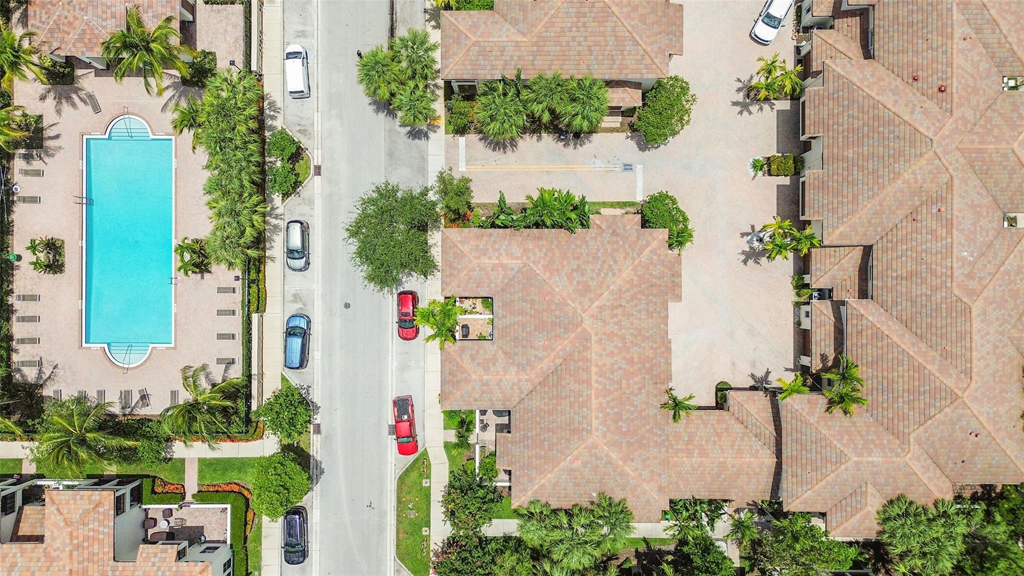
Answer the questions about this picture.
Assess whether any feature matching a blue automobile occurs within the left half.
Yes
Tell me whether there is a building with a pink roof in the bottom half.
No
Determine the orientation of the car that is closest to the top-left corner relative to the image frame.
from top to bottom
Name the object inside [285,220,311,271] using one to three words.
car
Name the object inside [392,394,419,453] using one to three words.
truck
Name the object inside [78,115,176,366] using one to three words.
swimming pool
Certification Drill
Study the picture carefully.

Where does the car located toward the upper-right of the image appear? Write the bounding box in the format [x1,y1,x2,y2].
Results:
[754,0,791,46]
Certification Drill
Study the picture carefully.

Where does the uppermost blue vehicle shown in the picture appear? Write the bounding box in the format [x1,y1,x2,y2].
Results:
[283,313,311,369]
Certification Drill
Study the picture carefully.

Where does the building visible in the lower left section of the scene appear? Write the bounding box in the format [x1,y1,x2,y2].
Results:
[0,478,229,576]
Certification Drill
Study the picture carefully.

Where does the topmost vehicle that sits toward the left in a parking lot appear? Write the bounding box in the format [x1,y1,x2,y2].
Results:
[282,45,311,99]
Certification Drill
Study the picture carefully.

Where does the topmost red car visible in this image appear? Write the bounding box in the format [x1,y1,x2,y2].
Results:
[396,290,420,339]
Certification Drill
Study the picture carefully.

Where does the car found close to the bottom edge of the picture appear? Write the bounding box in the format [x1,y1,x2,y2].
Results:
[282,506,310,562]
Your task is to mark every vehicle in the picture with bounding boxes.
[285,220,311,271]
[396,290,420,339]
[392,394,419,453]
[282,45,311,99]
[283,313,311,369]
[282,506,310,562]
[754,0,791,46]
